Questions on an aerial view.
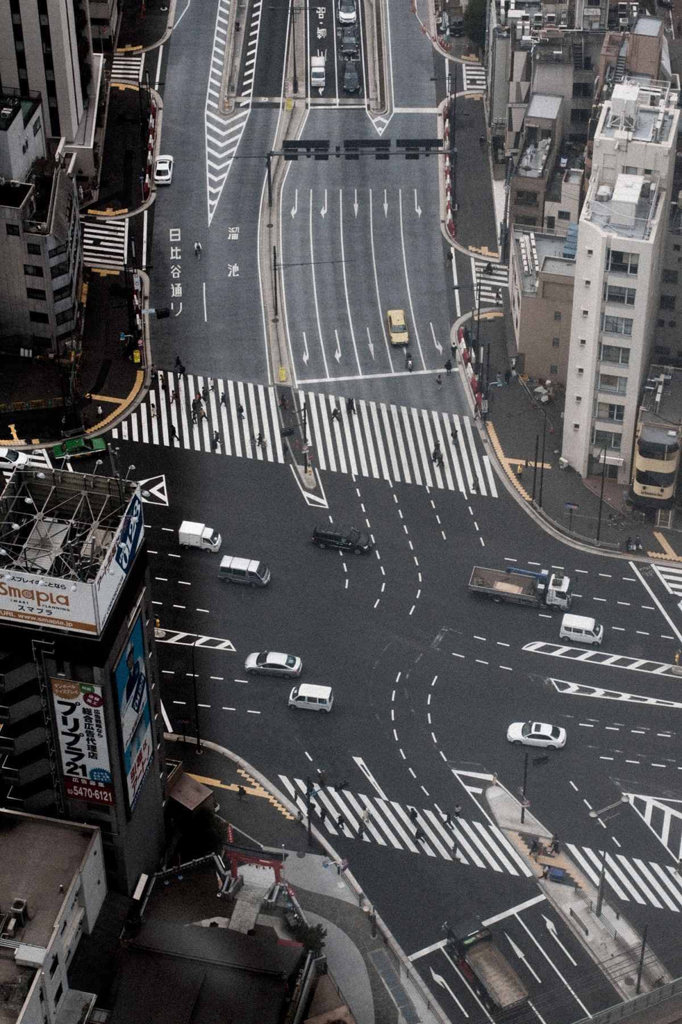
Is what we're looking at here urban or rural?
urban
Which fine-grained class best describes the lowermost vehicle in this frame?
truck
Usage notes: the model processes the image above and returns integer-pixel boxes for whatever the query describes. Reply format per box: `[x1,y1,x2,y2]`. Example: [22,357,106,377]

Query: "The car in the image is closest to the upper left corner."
[153,155,173,183]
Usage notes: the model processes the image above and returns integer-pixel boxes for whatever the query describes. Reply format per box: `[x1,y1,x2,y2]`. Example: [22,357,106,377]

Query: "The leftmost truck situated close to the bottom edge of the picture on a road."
[442,911,525,1018]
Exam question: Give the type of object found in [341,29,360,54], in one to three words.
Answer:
car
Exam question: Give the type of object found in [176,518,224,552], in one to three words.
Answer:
truck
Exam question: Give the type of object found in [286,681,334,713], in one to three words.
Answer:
van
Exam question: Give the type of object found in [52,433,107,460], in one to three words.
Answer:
car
